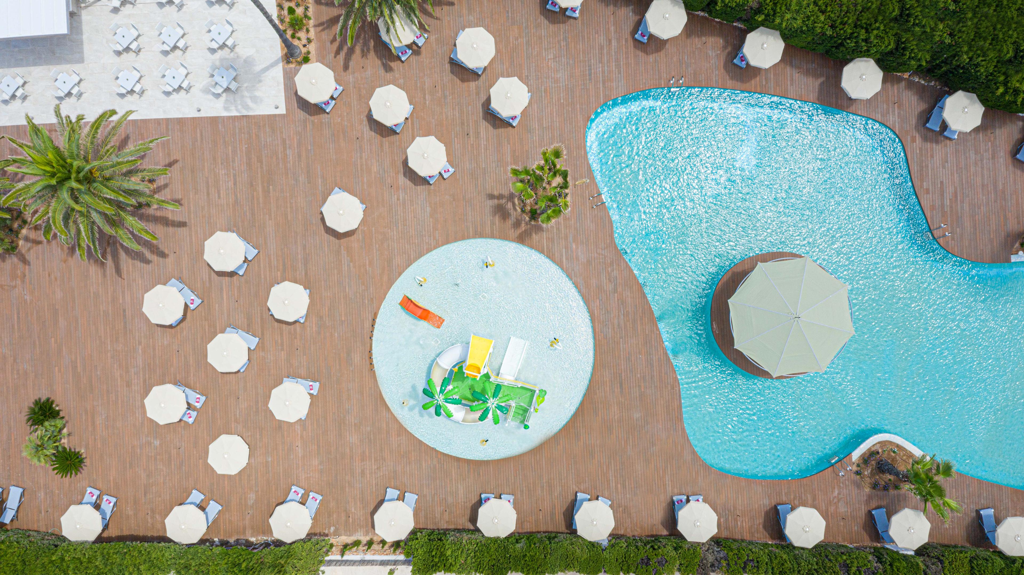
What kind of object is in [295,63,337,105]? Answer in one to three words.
umbrella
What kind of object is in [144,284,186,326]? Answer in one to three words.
umbrella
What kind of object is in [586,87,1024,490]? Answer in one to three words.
swimming pool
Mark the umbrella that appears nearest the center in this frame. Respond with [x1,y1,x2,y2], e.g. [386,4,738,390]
[406,135,447,176]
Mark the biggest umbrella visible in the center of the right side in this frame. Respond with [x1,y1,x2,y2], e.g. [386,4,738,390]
[728,255,855,378]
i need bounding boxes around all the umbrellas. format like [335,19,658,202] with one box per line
[645,0,687,39]
[994,516,1024,556]
[206,232,247,272]
[270,380,312,422]
[941,91,985,133]
[677,501,718,541]
[888,508,930,550]
[268,281,310,324]
[208,433,249,474]
[323,192,365,234]
[165,503,208,545]
[555,0,585,8]
[406,135,447,176]
[784,506,826,548]
[369,84,412,127]
[574,498,615,540]
[62,502,103,543]
[145,382,187,424]
[476,498,517,539]
[373,500,415,541]
[208,332,248,372]
[269,499,312,542]
[841,58,882,100]
[455,28,495,69]
[742,27,785,70]
[144,284,186,326]
[489,76,529,116]
[728,255,855,378]
[295,63,337,105]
